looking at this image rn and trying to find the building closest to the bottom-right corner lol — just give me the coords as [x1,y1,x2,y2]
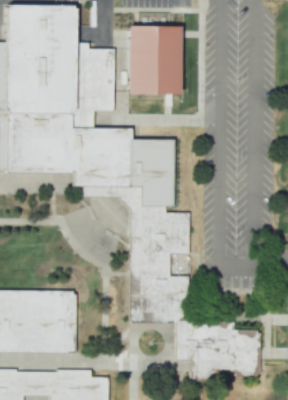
[178,322,260,378]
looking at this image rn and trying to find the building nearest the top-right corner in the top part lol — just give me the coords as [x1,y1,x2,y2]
[131,25,184,94]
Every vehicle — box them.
[263,196,270,206]
[240,5,250,15]
[226,196,236,206]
